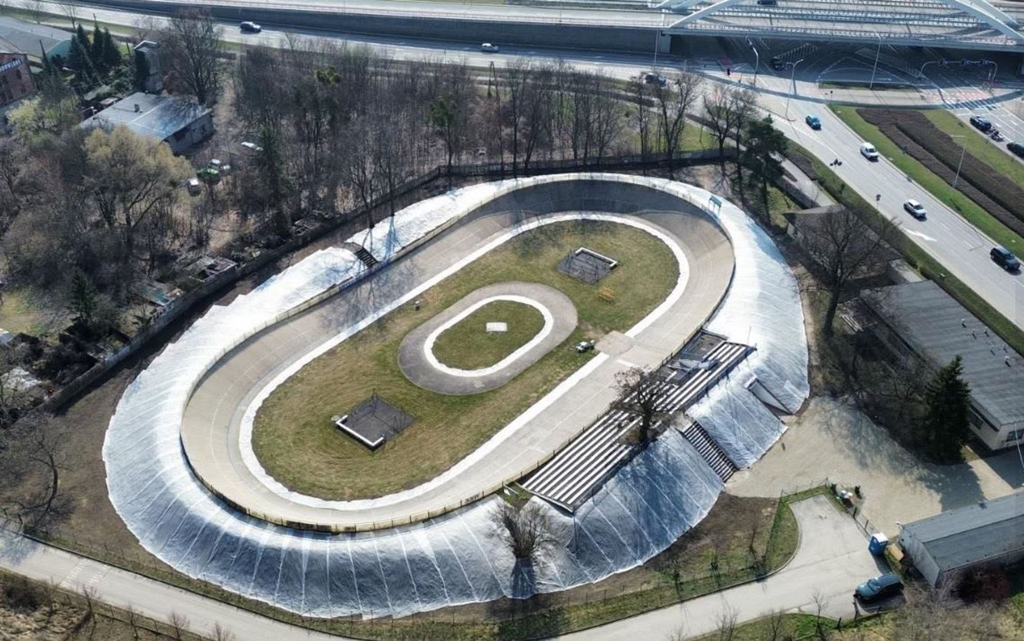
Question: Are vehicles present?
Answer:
Yes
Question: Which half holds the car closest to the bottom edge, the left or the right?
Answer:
right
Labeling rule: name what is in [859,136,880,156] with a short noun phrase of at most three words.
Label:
vehicle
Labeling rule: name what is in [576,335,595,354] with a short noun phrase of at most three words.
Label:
work vehicle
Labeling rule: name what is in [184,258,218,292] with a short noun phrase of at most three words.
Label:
shed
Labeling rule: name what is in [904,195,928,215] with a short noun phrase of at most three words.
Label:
car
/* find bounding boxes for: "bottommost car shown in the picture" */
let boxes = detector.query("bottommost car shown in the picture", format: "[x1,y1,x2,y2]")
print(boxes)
[856,566,904,598]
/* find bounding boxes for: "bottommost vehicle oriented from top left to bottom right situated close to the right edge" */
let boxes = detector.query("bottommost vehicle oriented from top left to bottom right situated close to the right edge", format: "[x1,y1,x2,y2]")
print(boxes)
[990,241,1022,265]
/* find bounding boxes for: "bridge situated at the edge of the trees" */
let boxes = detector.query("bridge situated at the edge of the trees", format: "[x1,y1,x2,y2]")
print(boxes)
[657,0,1024,73]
